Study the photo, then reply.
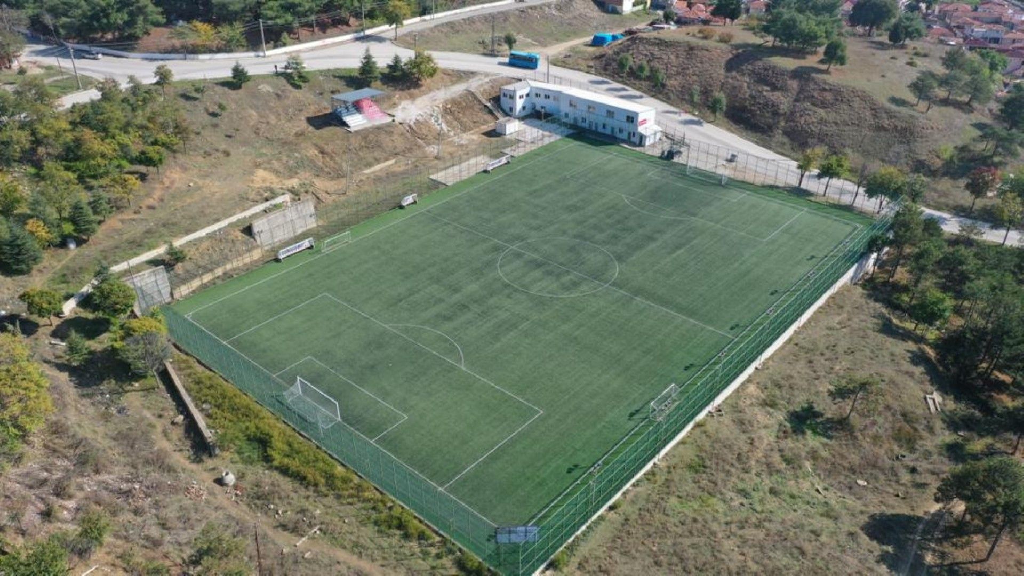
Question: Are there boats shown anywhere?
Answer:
No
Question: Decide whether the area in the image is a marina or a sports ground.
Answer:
sports ground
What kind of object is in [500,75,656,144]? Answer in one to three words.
building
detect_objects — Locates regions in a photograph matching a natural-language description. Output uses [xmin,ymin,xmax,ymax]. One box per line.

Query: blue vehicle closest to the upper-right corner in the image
[506,54,540,70]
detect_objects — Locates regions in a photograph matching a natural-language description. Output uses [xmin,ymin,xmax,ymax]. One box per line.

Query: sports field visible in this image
[144,136,895,576]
